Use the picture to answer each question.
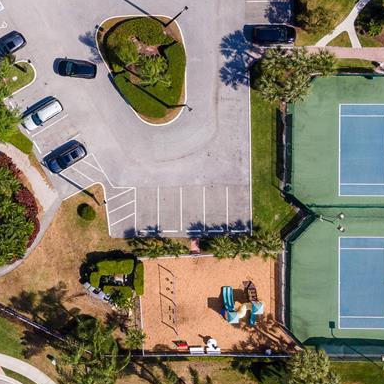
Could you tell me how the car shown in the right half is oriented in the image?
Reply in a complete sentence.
The car shown in the right half is oriented from side to side.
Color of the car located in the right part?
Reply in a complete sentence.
The car located in the right part looks black in the image.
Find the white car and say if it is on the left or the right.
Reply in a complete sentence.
The white car is on the left side of the image.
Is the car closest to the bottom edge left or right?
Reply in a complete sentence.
The car closest to the bottom edge sits on the left side.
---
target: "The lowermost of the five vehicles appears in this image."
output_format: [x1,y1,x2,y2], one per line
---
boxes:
[44,139,87,172]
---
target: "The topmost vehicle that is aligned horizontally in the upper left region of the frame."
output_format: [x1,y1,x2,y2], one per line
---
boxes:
[54,58,98,79]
